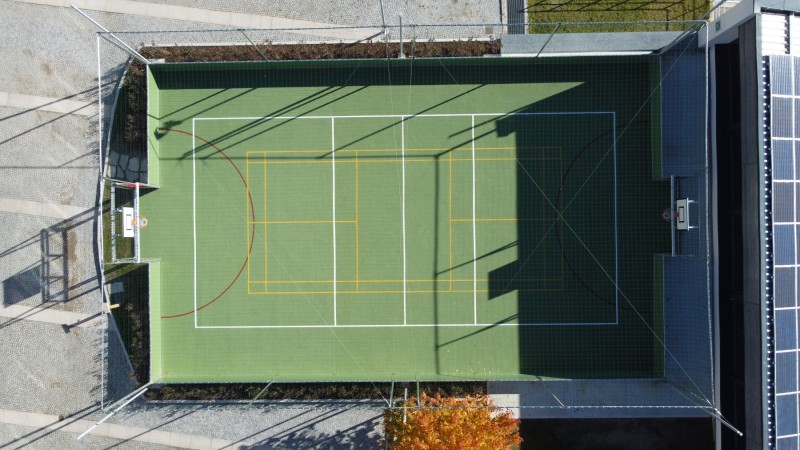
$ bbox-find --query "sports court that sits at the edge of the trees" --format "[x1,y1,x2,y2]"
[138,60,674,376]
